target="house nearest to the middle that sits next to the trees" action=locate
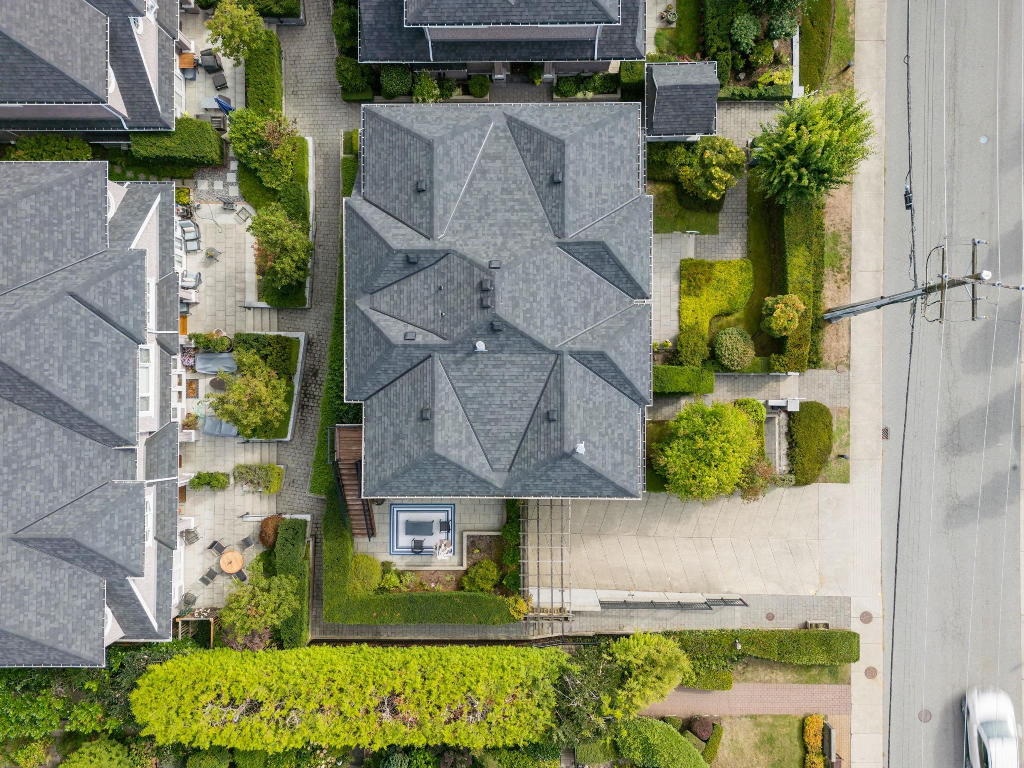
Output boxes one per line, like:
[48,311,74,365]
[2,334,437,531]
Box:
[344,102,653,499]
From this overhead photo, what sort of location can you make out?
residential area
